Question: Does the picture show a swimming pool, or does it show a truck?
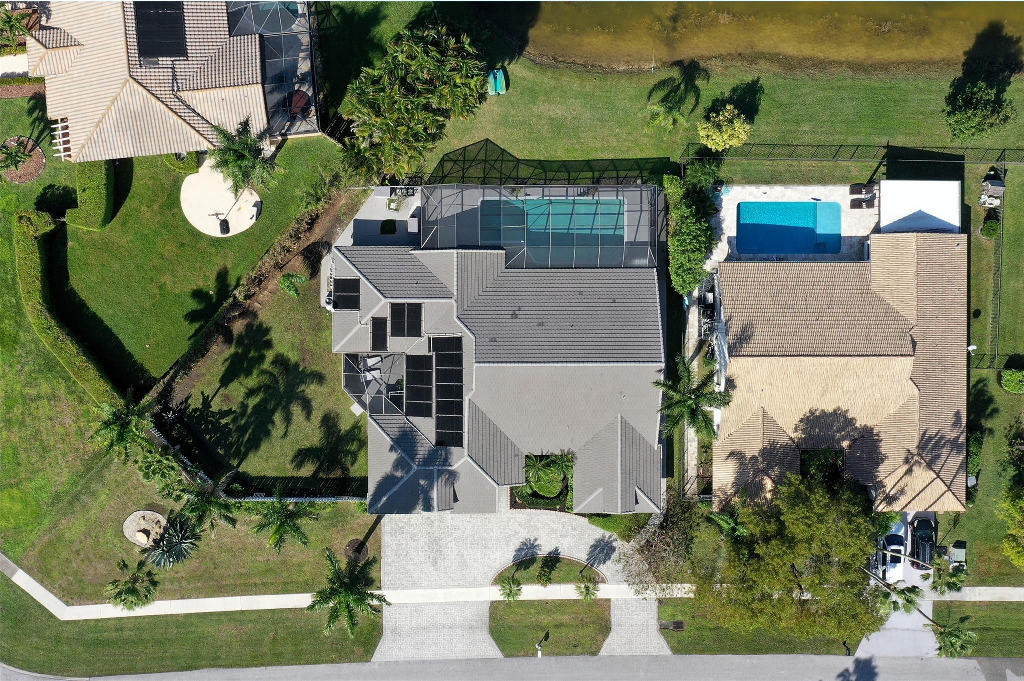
swimming pool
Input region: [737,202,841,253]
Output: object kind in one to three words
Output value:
swimming pool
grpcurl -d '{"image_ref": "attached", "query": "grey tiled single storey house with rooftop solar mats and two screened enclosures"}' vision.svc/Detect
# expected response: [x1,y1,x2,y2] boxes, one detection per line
[331,244,666,515]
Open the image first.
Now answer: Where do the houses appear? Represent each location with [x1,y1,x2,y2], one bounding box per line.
[710,232,969,512]
[26,0,276,162]
[331,244,666,515]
